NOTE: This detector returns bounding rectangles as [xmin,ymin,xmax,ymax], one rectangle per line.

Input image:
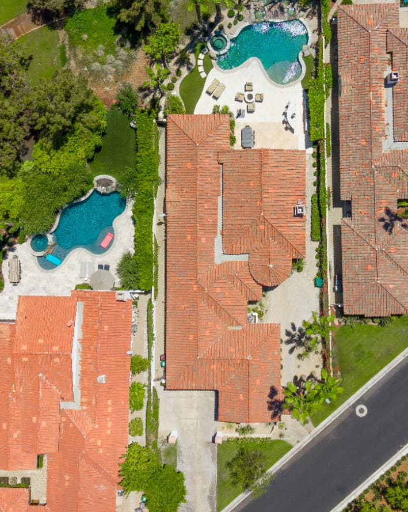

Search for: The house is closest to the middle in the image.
[164,113,307,426]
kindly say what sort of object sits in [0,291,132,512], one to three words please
house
